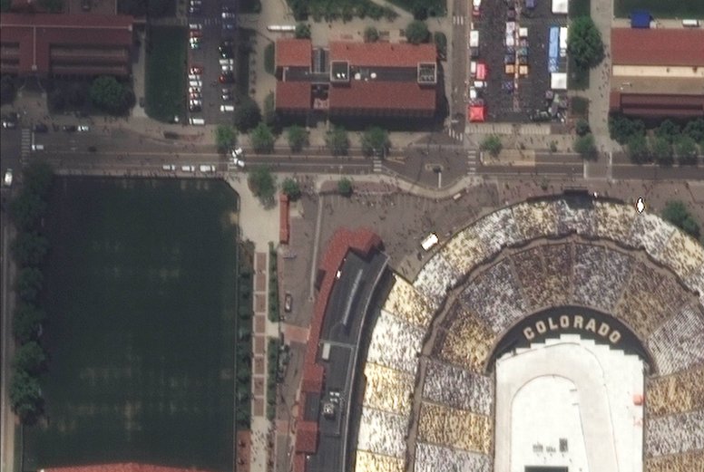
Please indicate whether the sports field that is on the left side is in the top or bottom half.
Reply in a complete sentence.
You can find the sports field that is on the left side in the bottom half.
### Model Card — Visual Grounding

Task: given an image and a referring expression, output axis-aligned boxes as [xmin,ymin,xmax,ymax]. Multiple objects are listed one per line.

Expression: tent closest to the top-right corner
[632,11,651,28]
